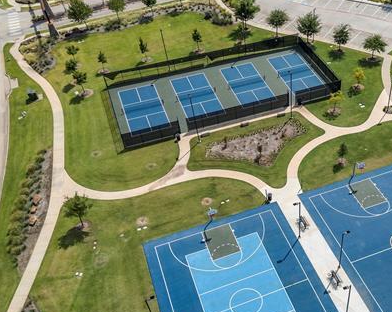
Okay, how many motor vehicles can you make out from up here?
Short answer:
0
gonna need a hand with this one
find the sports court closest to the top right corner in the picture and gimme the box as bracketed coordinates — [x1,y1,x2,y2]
[268,53,324,91]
